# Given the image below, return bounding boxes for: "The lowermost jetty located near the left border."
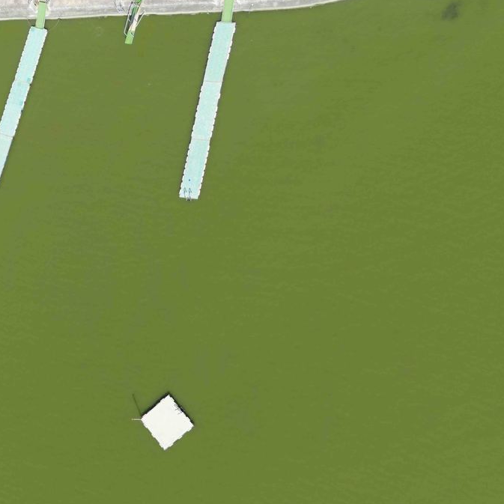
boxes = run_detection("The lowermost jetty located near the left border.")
[0,27,48,186]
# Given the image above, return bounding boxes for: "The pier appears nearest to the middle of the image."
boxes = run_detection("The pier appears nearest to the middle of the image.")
[180,22,236,201]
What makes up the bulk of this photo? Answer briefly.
water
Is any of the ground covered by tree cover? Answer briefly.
No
